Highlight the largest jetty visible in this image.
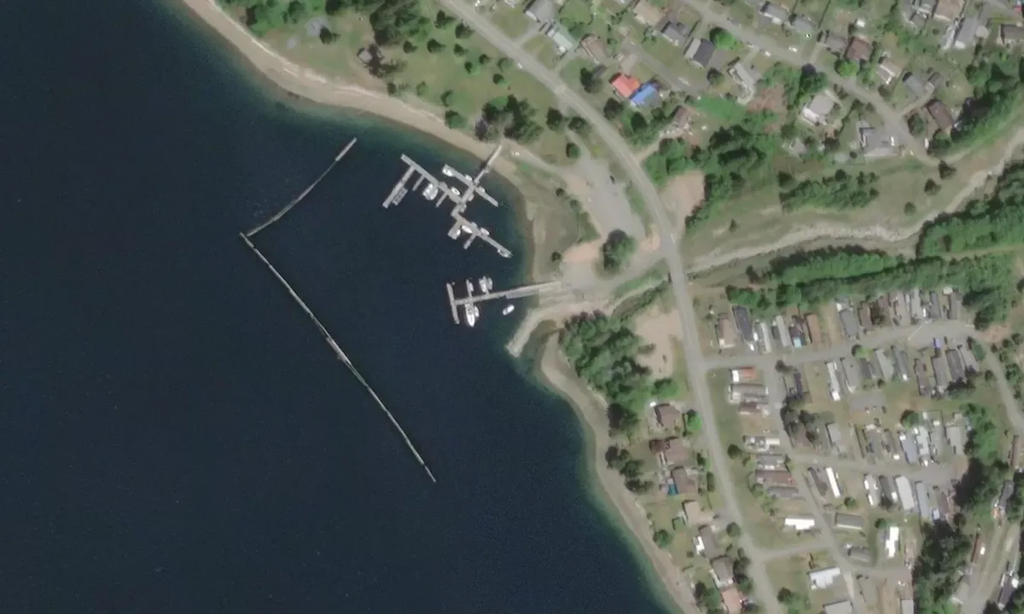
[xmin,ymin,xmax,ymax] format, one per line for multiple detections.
[383,144,512,256]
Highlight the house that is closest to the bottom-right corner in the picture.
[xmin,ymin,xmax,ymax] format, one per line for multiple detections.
[996,572,1019,609]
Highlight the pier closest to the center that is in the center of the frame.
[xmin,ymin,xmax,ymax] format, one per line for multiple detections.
[446,277,561,324]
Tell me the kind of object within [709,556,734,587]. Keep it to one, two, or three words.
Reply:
house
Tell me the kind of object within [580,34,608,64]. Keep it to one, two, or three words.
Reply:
house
